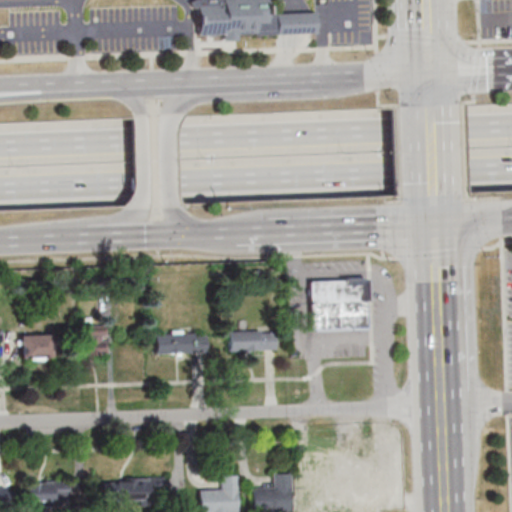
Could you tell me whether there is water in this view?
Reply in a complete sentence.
No, the scene doesn't show any water.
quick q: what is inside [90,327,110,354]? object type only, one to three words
house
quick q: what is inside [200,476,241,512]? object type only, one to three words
house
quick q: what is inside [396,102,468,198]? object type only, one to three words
overpass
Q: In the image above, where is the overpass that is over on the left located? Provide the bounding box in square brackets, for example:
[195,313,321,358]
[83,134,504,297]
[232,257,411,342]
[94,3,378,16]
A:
[124,95,190,228]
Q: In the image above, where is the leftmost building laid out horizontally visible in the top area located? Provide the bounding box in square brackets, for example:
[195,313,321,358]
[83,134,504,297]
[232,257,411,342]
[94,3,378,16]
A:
[192,0,279,40]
